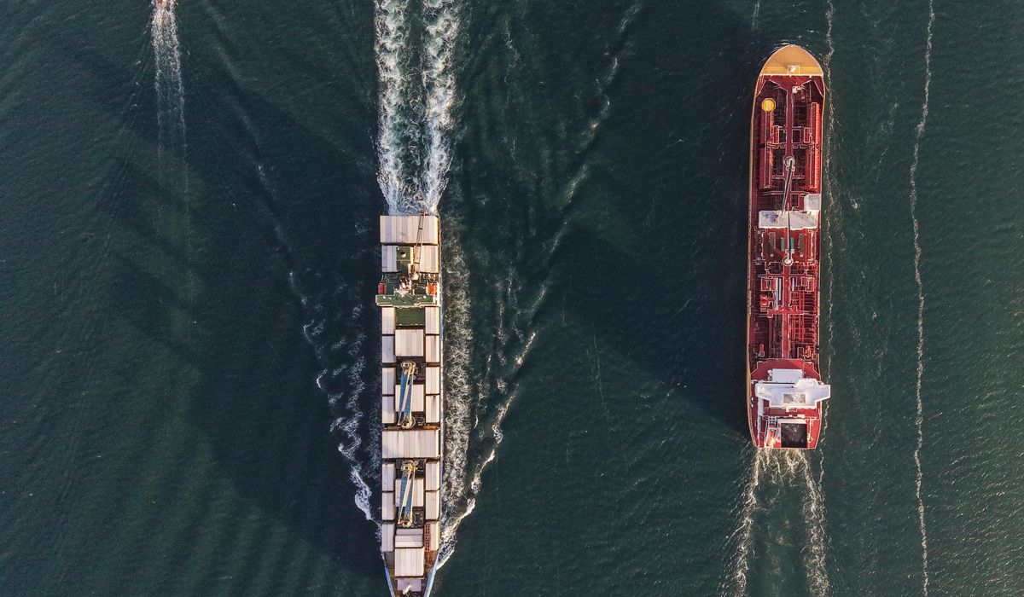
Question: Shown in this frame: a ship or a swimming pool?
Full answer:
Visible in the photo is a ship.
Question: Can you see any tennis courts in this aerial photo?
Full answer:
No, I find no tennis court anywhere in the image.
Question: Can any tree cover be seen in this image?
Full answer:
No, tree cover can't be seen anywhere here.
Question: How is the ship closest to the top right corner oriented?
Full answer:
What the image shows is the ship closest to the top right corner lying up and down.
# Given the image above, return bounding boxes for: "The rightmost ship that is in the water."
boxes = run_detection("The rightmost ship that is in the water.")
[744,44,831,449]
